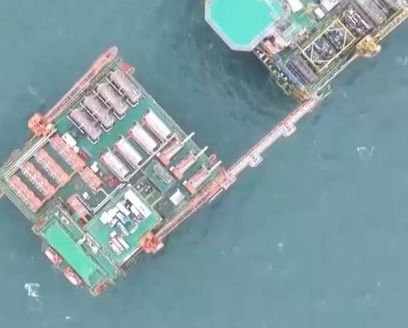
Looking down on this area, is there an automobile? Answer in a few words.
No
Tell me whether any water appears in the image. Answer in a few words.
Yes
